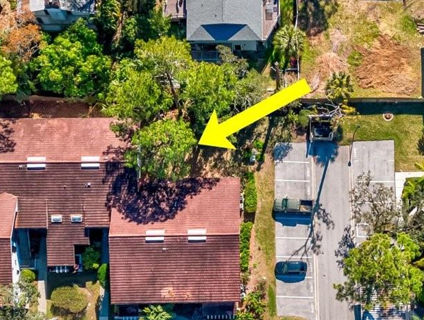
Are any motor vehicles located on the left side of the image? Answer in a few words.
No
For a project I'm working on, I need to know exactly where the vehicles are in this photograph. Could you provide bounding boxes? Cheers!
[273,197,313,213]
[274,261,307,277]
